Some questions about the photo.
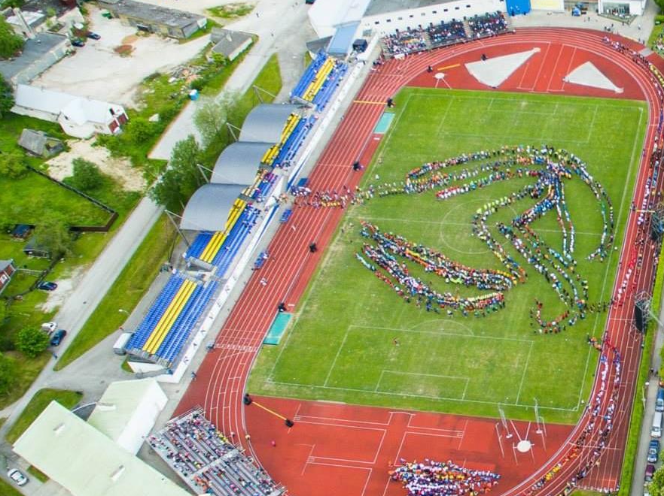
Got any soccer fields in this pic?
Yes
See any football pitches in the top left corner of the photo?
No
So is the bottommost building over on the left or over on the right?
left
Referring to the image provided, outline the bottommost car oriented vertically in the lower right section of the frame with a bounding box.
[643,461,656,482]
